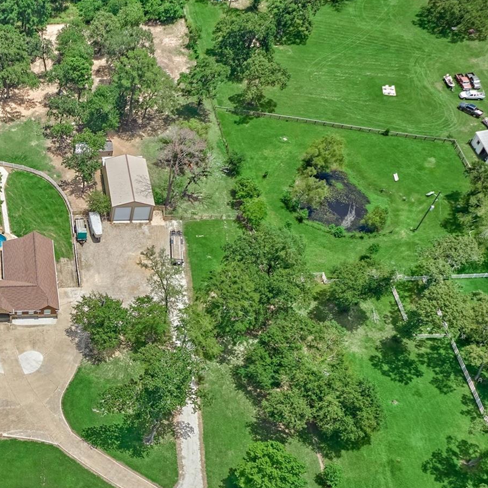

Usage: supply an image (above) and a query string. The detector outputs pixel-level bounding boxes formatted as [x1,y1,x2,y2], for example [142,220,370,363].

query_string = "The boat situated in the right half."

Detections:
[444,69,458,91]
